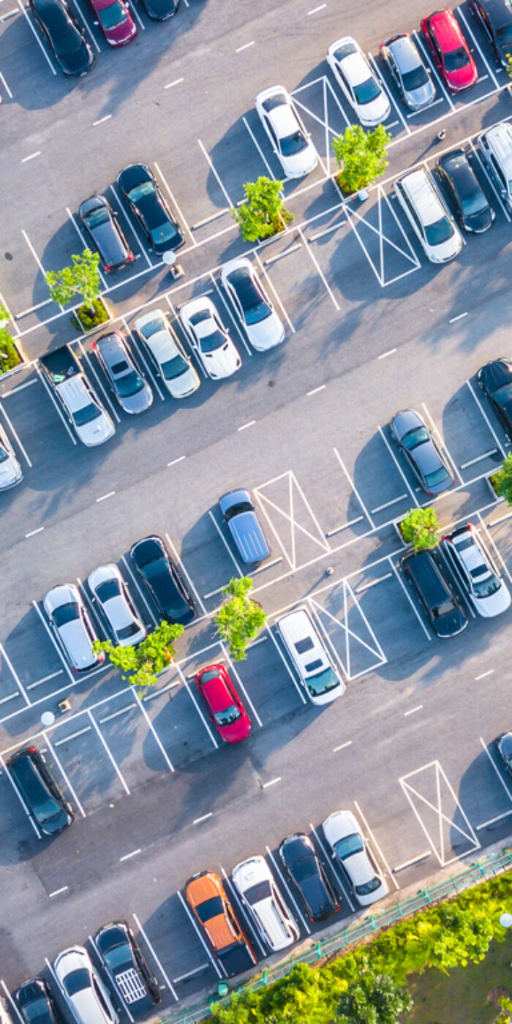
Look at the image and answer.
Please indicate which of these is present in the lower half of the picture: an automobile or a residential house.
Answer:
automobile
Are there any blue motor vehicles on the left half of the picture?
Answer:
Yes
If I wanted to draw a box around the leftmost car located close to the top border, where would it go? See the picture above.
[23,0,90,80]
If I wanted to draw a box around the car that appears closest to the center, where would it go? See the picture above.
[218,486,273,565]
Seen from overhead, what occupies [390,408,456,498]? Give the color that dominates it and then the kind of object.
blue car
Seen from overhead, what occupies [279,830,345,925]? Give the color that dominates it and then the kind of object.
blue car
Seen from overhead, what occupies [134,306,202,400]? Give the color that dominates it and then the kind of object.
white car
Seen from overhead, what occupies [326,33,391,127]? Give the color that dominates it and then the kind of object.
white car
